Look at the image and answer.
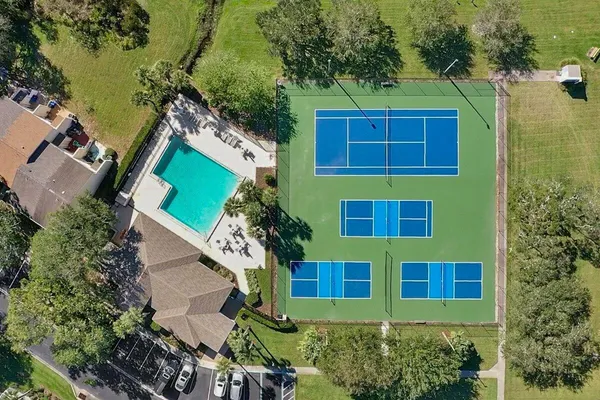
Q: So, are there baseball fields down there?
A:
No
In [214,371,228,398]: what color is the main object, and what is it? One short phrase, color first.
white car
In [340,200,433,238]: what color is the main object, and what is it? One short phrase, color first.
blue sports court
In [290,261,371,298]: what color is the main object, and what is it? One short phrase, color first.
blue sports court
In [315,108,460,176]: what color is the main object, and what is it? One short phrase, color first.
blue tennis court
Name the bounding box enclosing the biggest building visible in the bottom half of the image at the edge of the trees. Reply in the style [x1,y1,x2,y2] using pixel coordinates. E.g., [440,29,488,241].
[110,213,237,351]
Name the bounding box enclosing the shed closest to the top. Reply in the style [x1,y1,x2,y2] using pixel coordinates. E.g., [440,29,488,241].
[560,64,582,83]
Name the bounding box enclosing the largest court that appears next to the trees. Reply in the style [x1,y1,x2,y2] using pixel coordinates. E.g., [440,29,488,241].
[277,81,499,321]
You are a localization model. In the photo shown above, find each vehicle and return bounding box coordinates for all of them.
[173,361,194,393]
[150,356,179,395]
[231,371,244,400]
[214,371,228,398]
